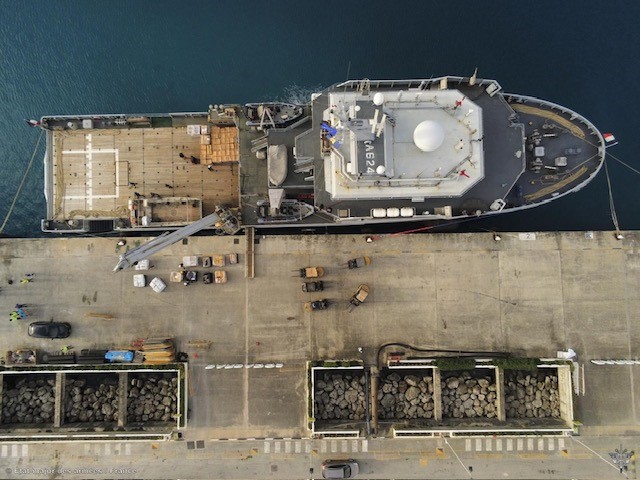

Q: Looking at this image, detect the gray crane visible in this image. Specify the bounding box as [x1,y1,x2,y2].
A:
[114,198,251,272]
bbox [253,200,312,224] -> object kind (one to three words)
boat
